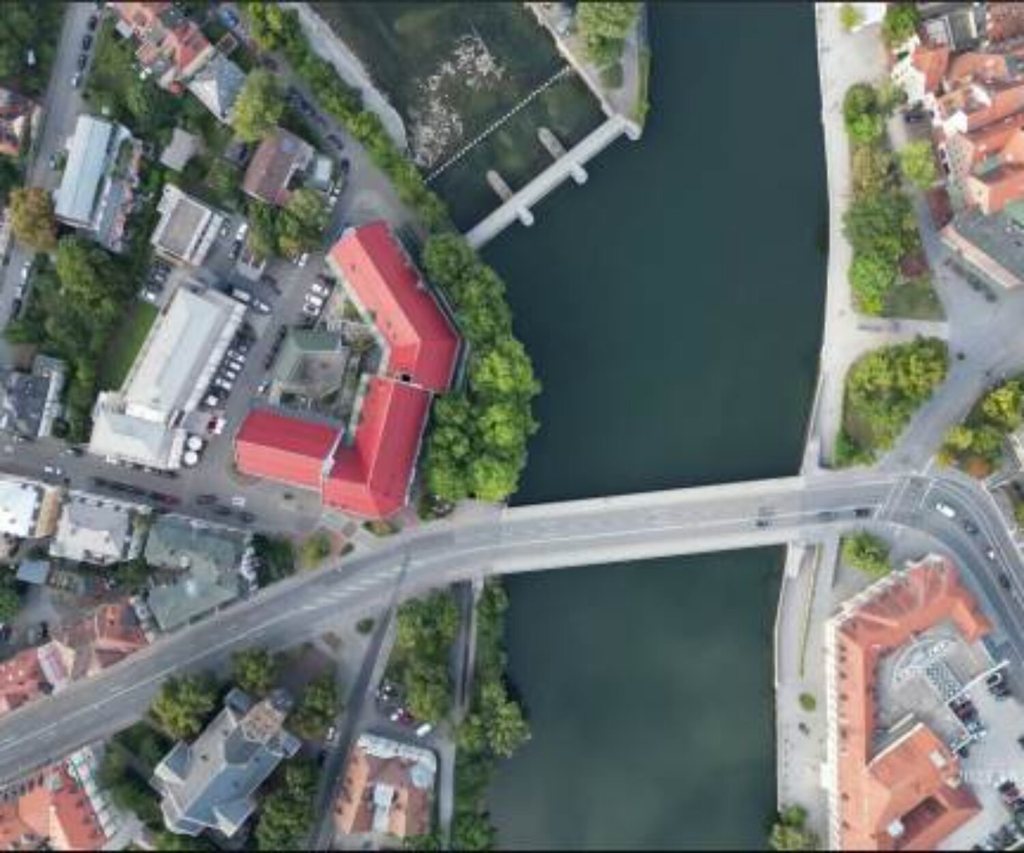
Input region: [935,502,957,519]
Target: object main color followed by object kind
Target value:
white vehicle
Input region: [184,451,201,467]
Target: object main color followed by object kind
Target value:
white umbrella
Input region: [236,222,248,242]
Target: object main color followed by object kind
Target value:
white vehicle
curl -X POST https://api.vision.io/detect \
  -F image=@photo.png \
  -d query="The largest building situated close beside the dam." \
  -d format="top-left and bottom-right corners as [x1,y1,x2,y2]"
[237,221,465,518]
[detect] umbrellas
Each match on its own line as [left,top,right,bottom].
[184,451,201,467]
[188,435,204,451]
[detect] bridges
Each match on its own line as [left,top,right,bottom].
[501,473,807,575]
